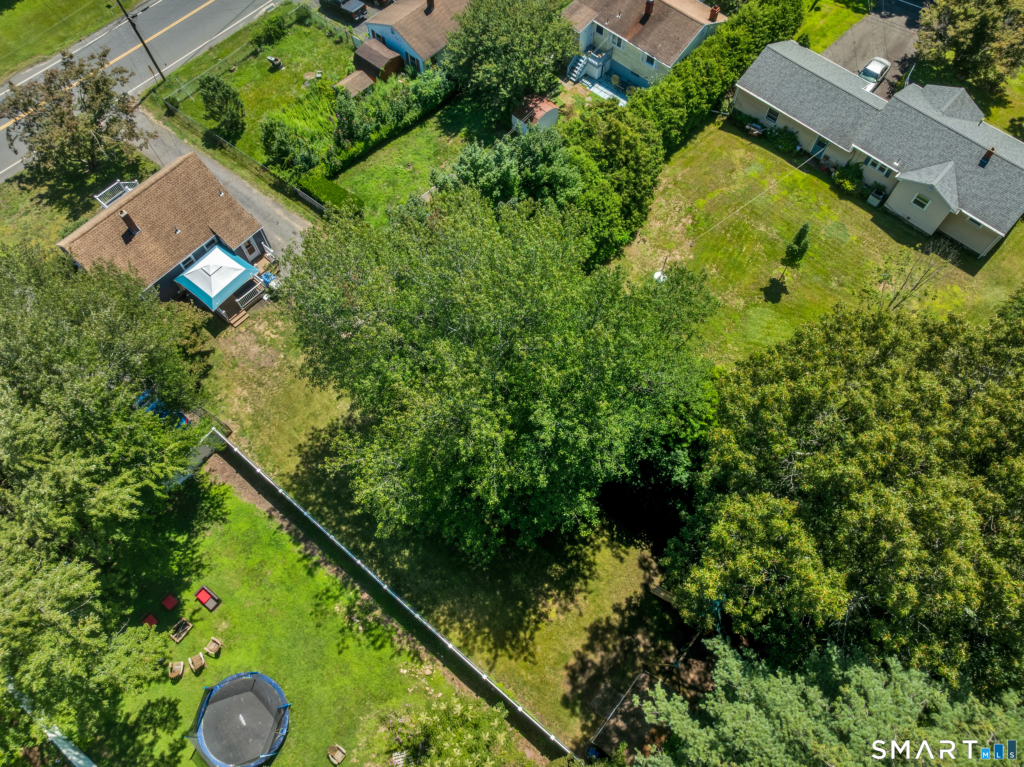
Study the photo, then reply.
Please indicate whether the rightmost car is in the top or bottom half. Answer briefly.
top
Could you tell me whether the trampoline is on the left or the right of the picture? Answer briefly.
left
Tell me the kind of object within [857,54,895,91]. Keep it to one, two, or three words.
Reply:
car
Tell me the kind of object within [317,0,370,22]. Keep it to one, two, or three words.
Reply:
truck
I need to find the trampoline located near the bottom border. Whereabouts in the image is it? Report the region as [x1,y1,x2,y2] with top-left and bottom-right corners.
[186,668,296,767]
